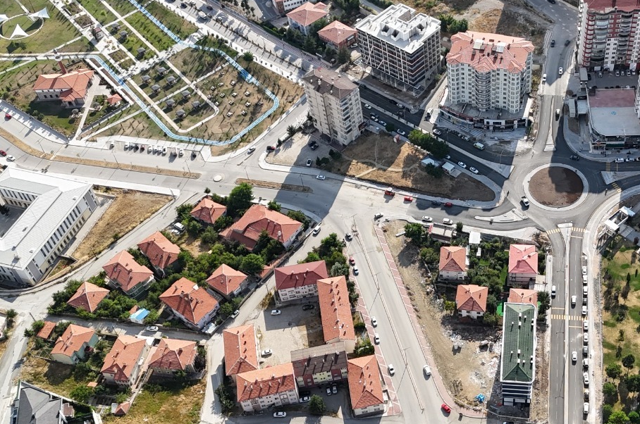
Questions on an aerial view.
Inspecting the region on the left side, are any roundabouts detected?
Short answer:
No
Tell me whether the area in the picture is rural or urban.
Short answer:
urban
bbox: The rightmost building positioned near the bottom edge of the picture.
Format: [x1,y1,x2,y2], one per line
[500,302,538,410]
